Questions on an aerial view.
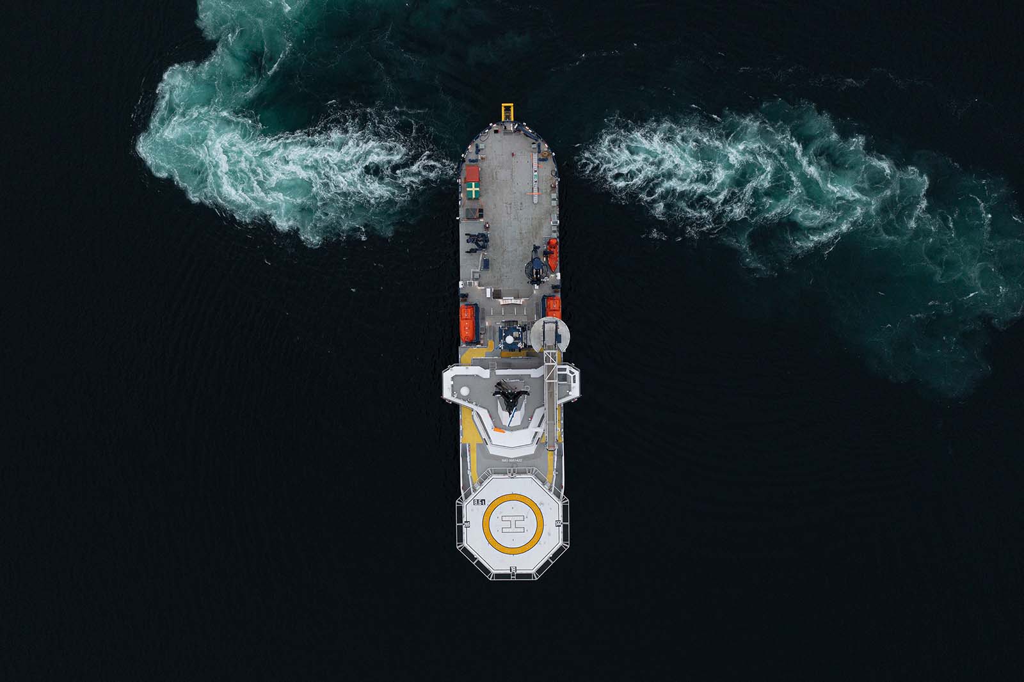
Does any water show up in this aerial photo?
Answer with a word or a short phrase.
Yes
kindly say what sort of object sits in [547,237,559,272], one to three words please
boat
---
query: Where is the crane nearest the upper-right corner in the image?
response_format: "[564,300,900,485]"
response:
[525,245,549,294]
